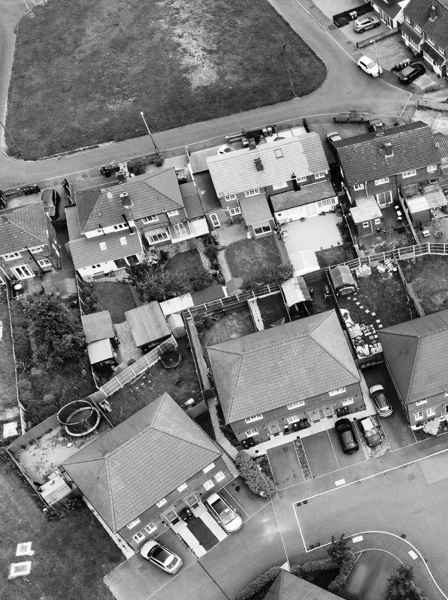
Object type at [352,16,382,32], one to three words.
car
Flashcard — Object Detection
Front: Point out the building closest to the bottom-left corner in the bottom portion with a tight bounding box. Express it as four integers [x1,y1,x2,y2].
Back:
[40,475,75,507]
